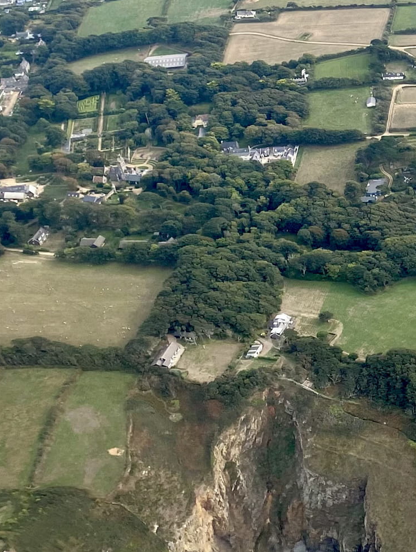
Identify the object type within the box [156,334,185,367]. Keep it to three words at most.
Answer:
barn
